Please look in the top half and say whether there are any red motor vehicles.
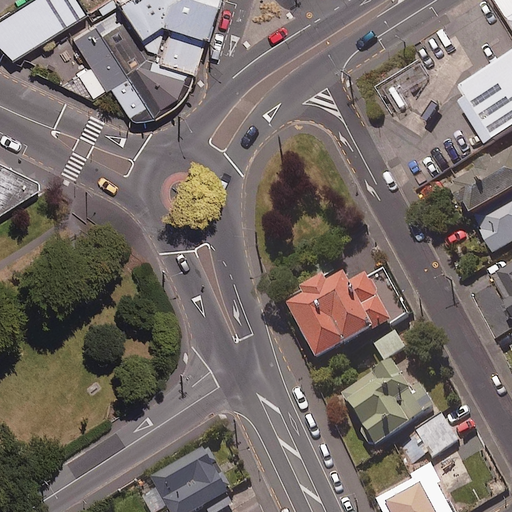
Yes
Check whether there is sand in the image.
No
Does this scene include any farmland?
No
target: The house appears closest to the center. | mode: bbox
[286,270,390,355]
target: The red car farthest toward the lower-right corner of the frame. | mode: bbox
[456,420,476,435]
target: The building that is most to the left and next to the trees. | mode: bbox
[0,165,40,218]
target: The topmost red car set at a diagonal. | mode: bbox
[267,29,288,46]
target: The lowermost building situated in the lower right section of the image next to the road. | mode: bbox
[350,462,454,512]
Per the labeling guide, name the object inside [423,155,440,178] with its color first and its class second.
white car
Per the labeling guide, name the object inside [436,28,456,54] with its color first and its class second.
white vehicle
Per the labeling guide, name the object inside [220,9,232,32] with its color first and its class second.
red vehicle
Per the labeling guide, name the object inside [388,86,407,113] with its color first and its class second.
white vehicle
